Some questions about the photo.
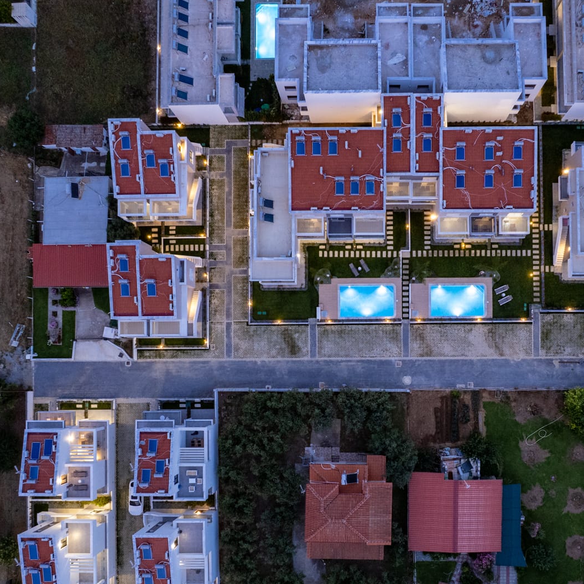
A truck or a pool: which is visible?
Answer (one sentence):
Visible in the photo is a pool.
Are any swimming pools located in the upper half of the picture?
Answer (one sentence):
Yes, a swimming pool shows up in the upper half of the picture.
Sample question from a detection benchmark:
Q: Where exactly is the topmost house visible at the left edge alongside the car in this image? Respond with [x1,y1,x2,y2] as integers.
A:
[19,409,120,500]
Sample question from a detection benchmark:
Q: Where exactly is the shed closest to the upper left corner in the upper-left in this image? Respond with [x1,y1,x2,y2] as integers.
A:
[44,124,110,159]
